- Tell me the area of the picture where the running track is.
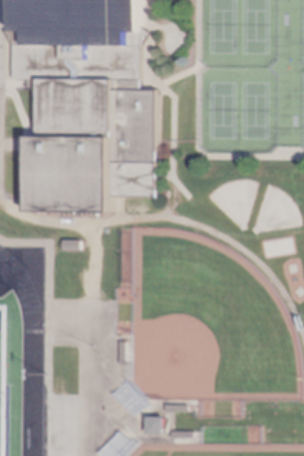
bottom left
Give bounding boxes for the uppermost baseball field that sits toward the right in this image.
[134,228,304,401]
